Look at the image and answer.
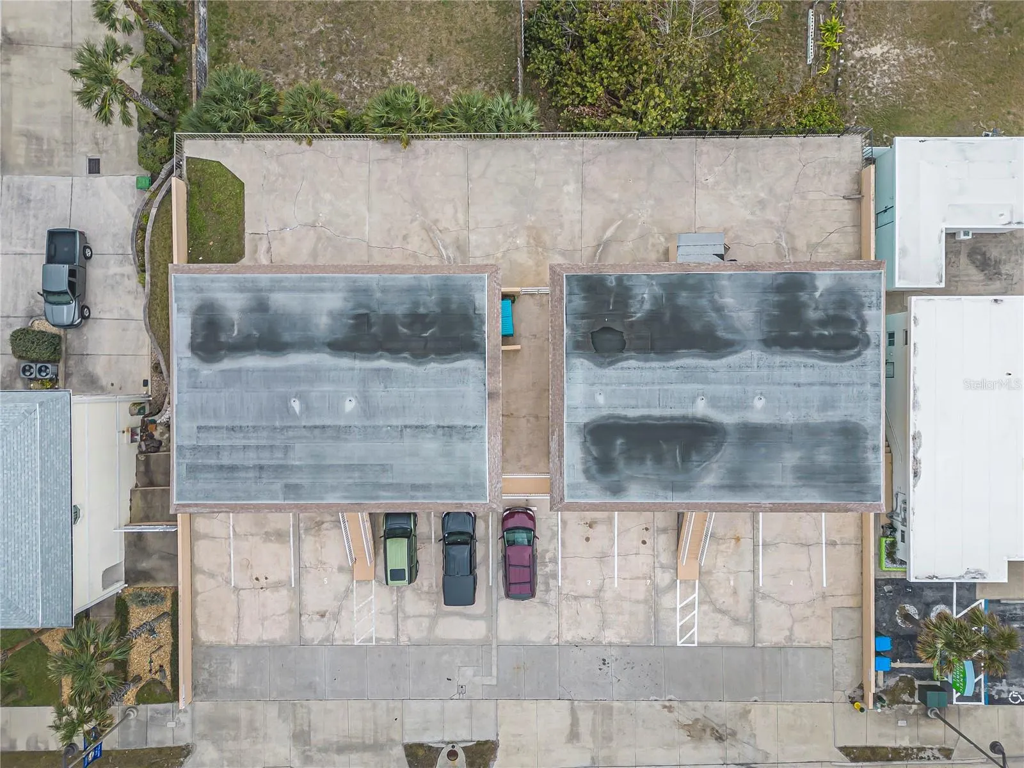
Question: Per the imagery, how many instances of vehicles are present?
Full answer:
Altogether the scene contains 4 vehicles.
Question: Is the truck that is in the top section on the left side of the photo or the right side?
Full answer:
The truck that is in the top section sits on the left side.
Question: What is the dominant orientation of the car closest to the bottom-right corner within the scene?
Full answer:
The car closest to the bottom-right corner runs from top to bottom in the image.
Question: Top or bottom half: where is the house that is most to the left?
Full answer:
Seen from above, the house that is most to the left lies in the bottom half of the view.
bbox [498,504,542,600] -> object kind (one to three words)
car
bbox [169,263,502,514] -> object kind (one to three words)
building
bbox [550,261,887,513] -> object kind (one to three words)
building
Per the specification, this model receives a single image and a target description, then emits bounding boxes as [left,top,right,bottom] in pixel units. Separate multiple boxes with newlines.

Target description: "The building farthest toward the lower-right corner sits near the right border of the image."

[886,295,1024,584]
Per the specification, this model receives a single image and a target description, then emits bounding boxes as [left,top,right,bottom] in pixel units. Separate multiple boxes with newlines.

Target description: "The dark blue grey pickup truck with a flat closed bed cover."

[438,513,480,604]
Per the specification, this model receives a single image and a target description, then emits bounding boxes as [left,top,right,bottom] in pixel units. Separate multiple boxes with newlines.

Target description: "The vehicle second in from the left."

[378,513,421,587]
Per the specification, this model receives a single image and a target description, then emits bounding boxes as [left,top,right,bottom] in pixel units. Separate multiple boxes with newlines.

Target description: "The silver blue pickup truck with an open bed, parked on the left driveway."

[42,229,92,330]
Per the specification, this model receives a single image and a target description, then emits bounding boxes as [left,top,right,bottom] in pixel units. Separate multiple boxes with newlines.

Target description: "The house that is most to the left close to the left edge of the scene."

[0,390,148,631]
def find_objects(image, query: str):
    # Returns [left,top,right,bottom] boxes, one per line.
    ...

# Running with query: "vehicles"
[438,513,480,604]
[498,504,542,600]
[378,513,421,587]
[42,229,92,330]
